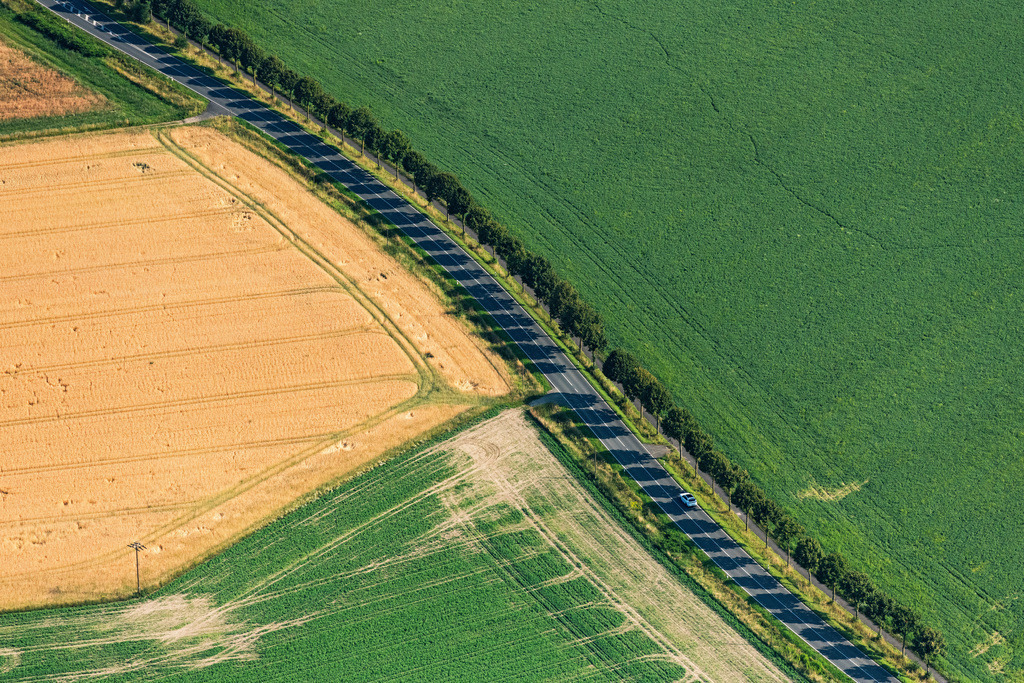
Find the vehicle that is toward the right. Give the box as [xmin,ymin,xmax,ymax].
[680,493,697,508]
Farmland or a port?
farmland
